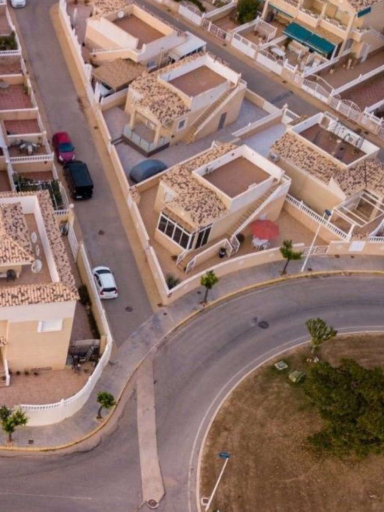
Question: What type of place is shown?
residential area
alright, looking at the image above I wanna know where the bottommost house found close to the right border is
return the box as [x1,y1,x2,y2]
[269,112,384,218]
